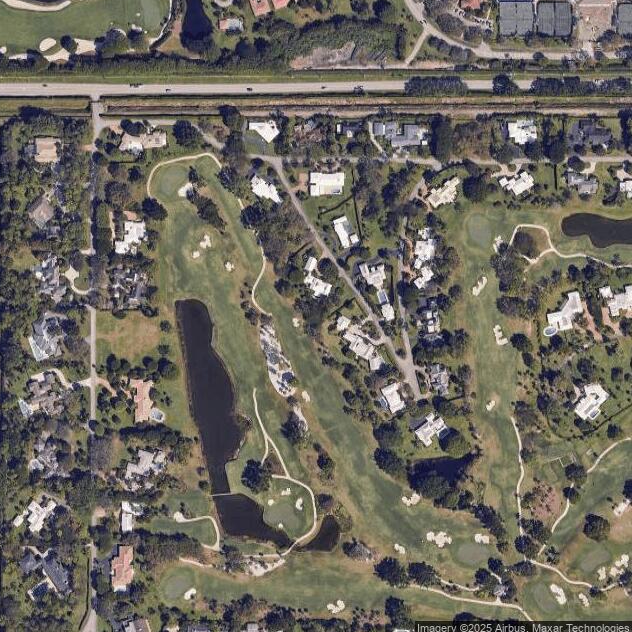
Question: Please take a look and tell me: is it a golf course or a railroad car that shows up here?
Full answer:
This aerial view contains a golf course.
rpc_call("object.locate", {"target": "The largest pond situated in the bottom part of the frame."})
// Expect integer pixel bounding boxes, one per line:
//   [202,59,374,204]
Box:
[176,300,293,547]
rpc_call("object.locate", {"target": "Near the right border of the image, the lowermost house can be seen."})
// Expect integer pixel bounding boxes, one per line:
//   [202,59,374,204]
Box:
[574,381,611,419]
